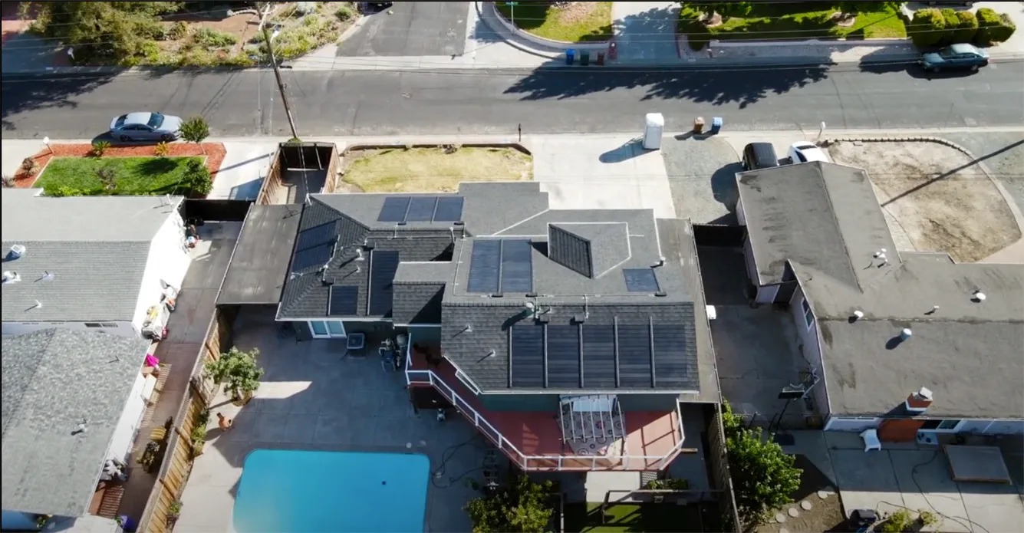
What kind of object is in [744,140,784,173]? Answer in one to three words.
vehicle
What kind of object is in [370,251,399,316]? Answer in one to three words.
solar panel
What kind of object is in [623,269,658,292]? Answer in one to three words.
solar panel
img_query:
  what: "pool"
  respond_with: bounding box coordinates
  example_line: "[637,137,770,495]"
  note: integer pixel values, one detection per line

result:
[220,449,433,533]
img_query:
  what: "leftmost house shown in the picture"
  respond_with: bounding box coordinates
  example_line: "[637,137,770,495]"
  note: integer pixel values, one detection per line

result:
[0,188,189,533]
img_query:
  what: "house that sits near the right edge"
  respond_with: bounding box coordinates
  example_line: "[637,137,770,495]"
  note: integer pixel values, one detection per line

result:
[735,159,1024,446]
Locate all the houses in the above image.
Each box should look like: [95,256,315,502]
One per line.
[735,159,1024,446]
[0,188,189,533]
[272,181,701,410]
